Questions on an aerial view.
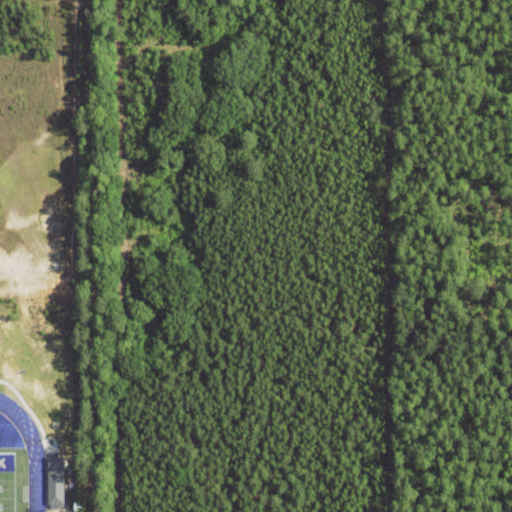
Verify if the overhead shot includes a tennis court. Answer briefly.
No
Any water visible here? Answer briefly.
No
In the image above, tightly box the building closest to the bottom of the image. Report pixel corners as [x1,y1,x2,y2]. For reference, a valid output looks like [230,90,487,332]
[48,456,65,509]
